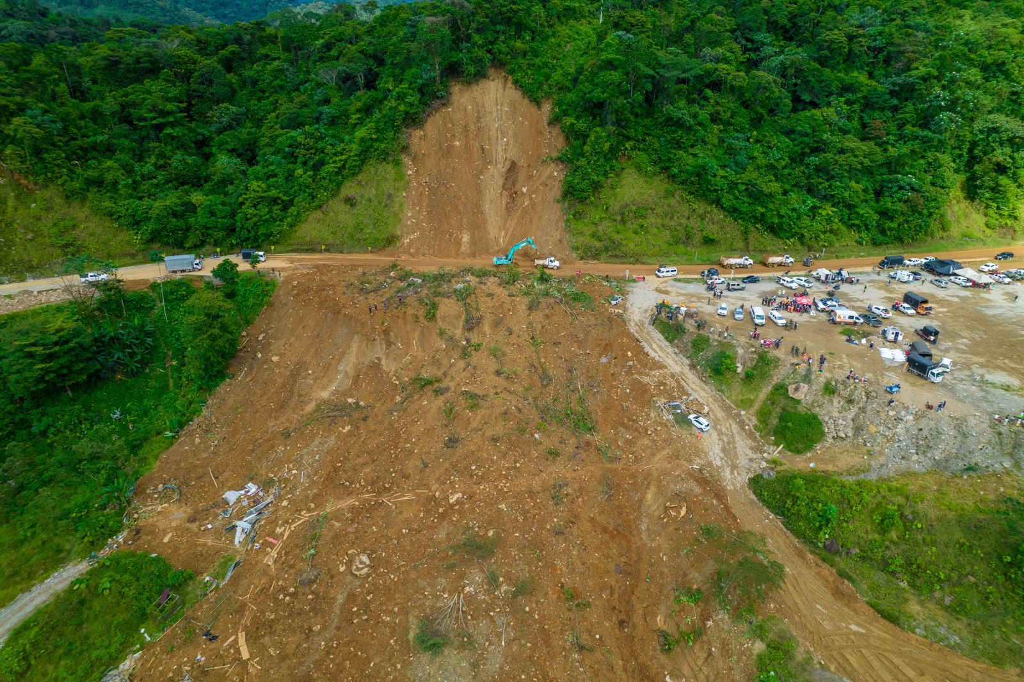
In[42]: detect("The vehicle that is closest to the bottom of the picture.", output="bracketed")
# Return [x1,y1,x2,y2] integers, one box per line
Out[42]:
[686,415,711,431]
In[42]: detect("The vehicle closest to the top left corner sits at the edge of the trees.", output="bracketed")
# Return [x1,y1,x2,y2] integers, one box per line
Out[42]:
[77,270,109,283]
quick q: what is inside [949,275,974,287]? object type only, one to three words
vehicle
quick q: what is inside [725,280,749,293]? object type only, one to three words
vehicle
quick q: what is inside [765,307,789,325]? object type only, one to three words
car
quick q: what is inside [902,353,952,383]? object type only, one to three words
truck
